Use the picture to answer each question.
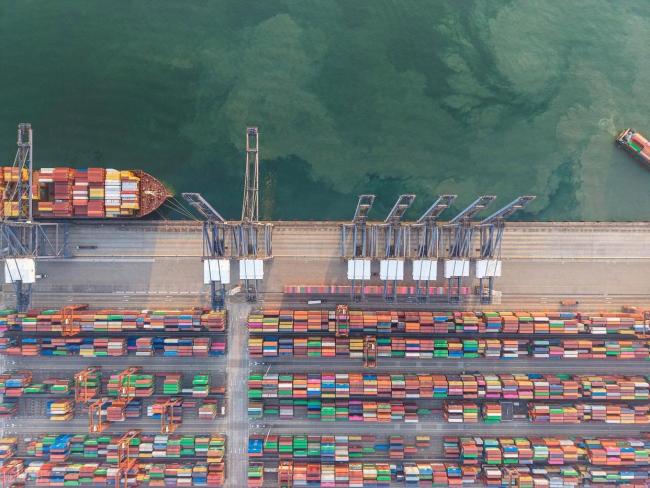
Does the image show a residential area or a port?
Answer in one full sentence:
The area seen from above is a port.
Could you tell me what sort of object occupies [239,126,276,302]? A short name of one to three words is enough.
container crane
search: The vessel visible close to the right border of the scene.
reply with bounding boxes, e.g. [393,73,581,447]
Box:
[615,129,650,169]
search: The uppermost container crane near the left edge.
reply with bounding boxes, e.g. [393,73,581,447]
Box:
[0,126,72,302]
